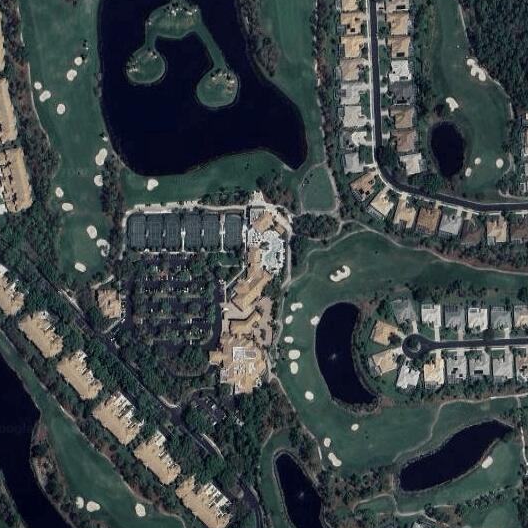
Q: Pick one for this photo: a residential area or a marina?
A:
residential area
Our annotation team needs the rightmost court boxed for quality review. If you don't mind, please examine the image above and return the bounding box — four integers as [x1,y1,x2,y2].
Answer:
[224,212,242,251]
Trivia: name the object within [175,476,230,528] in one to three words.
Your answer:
building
